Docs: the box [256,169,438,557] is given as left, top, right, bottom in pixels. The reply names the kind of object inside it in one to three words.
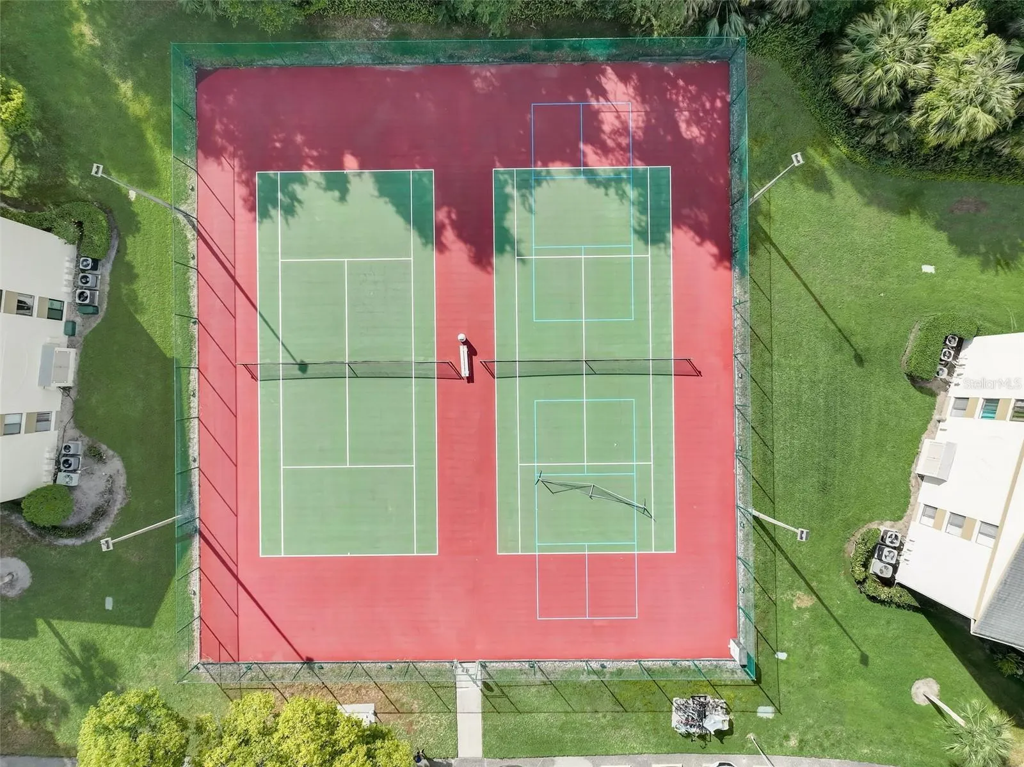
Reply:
tennis court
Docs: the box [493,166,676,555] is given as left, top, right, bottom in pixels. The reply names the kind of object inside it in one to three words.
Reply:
tennis court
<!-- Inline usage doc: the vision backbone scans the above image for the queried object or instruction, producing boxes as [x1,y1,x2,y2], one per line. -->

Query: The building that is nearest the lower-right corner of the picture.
[895,331,1024,645]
